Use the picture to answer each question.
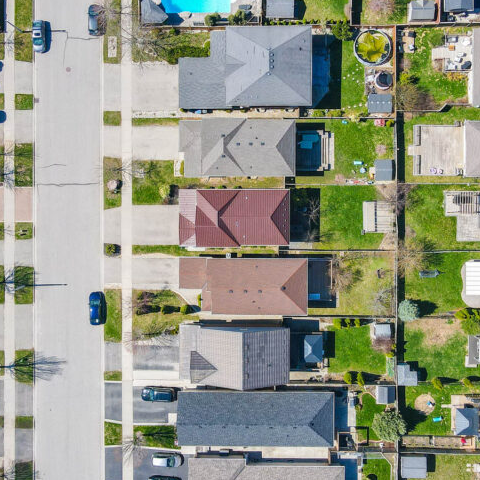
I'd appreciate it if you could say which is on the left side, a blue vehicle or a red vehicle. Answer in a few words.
blue vehicle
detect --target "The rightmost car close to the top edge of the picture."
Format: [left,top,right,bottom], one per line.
[88,5,103,36]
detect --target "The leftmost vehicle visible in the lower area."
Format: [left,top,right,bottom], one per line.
[88,291,105,324]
